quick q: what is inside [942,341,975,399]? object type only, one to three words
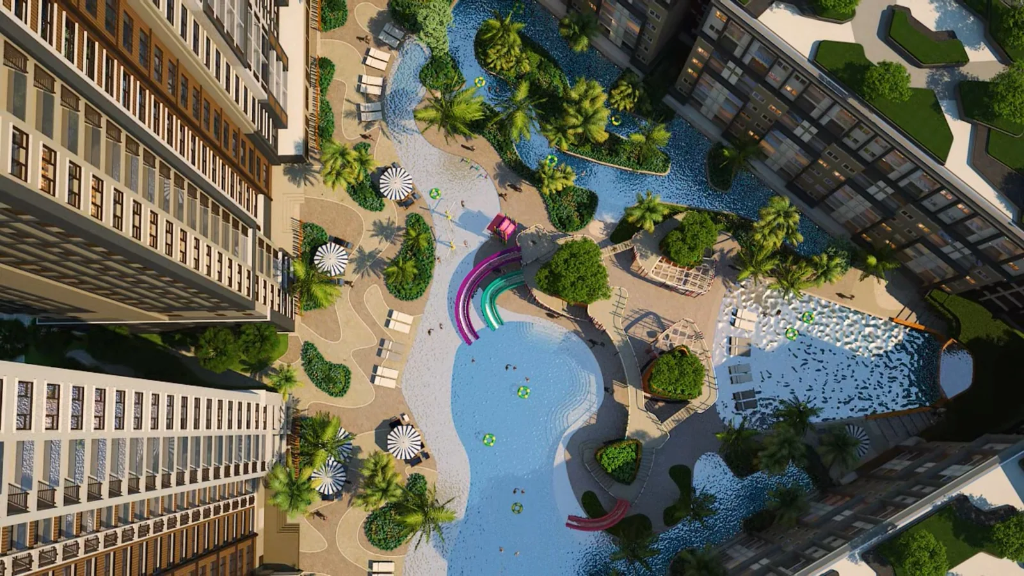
swimming pool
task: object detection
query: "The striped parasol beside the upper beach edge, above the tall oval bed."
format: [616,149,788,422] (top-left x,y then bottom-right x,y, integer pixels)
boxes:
[379,168,414,202]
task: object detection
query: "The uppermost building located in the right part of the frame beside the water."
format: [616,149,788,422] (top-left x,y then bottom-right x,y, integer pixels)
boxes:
[566,0,701,65]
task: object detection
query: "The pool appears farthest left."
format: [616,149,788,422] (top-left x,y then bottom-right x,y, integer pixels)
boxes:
[447,321,621,576]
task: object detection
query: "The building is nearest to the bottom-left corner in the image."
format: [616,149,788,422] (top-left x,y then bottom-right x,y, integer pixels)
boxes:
[0,361,292,576]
